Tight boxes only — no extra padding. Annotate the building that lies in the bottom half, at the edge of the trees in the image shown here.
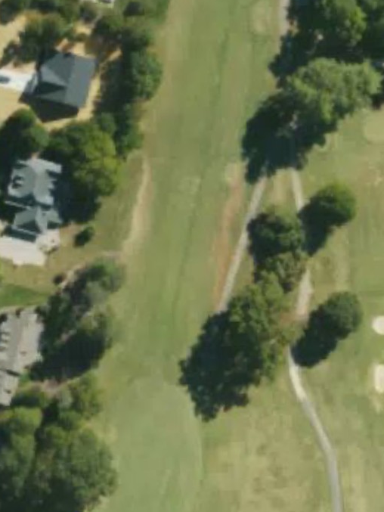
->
[0,305,45,409]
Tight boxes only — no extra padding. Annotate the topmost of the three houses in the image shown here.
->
[27,48,89,118]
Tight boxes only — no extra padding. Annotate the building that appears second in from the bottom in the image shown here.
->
[0,156,63,236]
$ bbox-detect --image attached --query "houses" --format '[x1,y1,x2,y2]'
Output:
[0,156,63,236]
[0,305,45,409]
[27,48,89,118]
